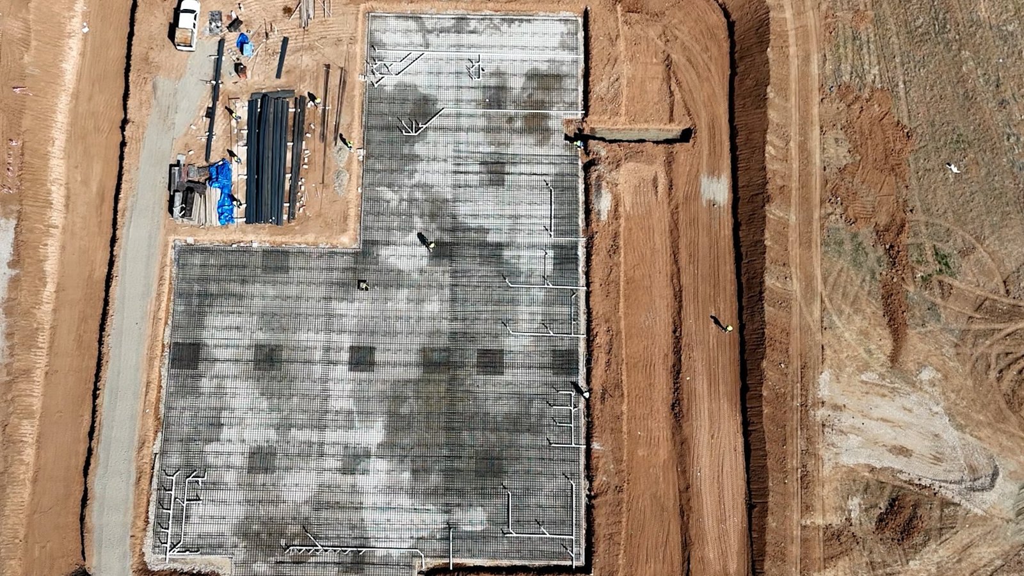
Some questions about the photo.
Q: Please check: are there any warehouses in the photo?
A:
No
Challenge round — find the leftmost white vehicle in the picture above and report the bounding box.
[173,1,203,53]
